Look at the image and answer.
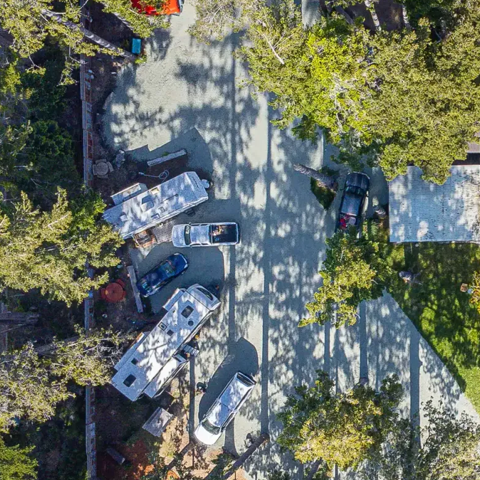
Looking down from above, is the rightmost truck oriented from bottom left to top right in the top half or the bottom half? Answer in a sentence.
The rightmost truck oriented from bottom left to top right sits in the bottom half of the picture.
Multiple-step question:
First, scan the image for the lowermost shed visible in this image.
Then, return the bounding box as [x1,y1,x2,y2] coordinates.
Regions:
[136,406,172,441]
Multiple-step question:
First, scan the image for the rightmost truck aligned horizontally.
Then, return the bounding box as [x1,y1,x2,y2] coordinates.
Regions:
[173,220,241,248]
